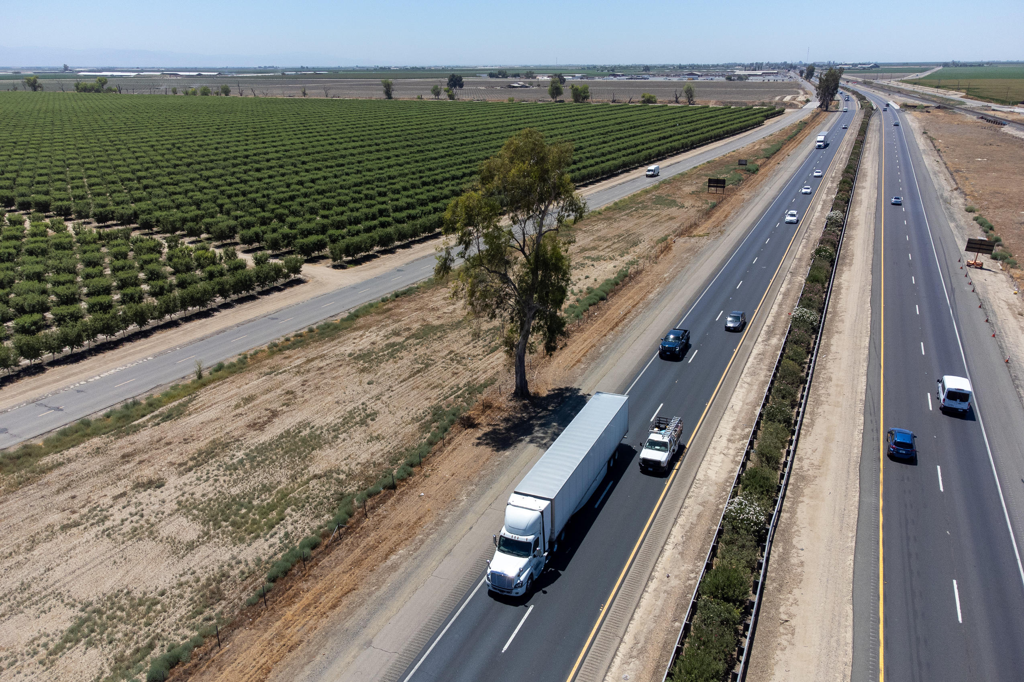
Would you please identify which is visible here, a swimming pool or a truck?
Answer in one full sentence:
The one in the frame is a truck.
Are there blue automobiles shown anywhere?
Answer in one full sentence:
Yes, there's a blue automobile here.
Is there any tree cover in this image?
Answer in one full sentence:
Yes, tree cover can be seen from above here.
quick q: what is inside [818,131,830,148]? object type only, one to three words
vehicle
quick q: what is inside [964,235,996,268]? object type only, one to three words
trailer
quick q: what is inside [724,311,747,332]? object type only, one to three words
car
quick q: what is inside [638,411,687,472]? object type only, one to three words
truck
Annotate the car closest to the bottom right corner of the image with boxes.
[888,426,920,460]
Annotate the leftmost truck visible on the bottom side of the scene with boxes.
[484,390,635,600]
